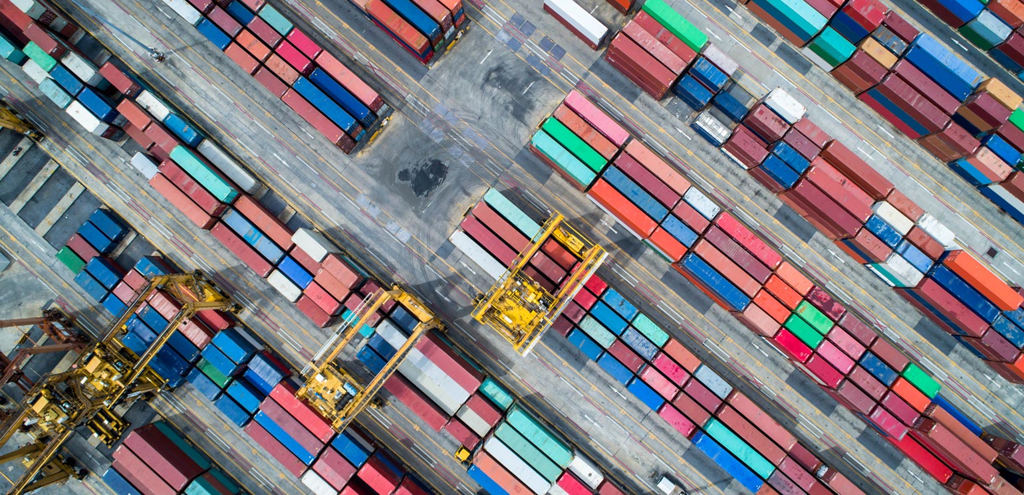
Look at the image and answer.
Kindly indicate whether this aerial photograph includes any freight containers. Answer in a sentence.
Yes, there's a freight container here.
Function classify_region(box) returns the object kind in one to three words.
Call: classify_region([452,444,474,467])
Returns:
truck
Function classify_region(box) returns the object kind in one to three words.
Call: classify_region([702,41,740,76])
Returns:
shipping container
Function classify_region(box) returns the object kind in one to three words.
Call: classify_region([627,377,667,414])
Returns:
shipping container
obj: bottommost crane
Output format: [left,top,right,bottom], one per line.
[0,374,147,495]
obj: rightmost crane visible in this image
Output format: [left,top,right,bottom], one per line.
[471,212,614,362]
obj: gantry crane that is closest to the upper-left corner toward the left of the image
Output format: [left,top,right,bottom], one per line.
[0,98,46,142]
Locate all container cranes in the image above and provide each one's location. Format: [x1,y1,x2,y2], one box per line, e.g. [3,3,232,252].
[60,267,243,422]
[289,283,446,436]
[471,212,614,362]
[0,98,46,142]
[0,374,147,495]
